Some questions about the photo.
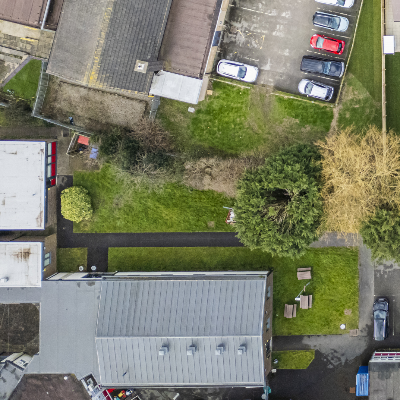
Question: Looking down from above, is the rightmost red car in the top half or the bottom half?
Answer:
top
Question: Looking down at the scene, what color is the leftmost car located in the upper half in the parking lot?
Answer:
white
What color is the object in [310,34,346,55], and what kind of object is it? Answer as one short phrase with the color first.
red car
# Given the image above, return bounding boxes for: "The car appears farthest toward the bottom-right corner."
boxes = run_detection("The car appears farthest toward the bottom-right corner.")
[372,297,390,341]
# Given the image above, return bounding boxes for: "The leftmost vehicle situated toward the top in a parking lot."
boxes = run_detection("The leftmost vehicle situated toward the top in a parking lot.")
[217,59,260,82]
